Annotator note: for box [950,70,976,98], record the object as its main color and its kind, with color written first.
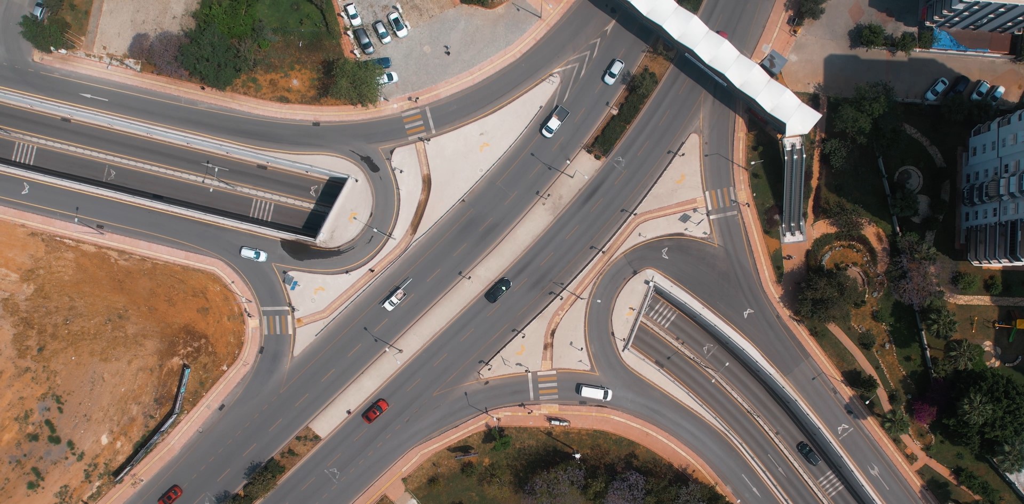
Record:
black car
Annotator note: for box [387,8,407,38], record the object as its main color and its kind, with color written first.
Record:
white car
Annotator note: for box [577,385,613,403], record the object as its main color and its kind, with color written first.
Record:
white vehicle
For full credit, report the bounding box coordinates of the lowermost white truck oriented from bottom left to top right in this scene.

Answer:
[375,279,410,313]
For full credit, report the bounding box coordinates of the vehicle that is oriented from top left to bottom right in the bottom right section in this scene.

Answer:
[797,439,826,471]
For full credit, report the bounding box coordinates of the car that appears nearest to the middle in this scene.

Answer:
[484,277,512,304]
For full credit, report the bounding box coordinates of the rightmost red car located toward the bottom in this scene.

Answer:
[360,399,389,426]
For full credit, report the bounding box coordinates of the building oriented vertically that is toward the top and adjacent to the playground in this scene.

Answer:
[952,108,1024,273]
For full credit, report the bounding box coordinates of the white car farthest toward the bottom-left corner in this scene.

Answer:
[236,245,267,262]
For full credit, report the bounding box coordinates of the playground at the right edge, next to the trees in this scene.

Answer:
[953,305,1024,368]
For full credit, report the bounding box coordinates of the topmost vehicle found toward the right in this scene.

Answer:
[717,21,735,41]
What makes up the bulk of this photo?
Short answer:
paved ground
